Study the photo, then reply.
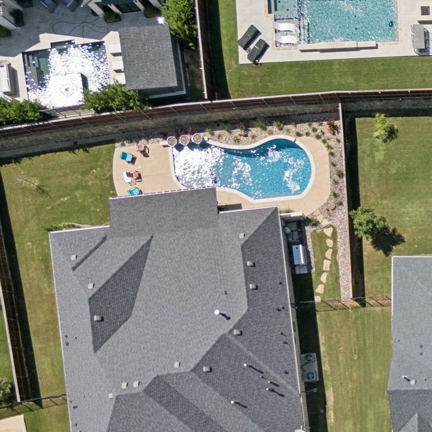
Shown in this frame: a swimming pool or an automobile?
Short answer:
swimming pool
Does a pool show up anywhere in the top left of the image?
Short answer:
Yes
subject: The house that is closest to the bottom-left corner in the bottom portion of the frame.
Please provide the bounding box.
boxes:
[47,186,306,432]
